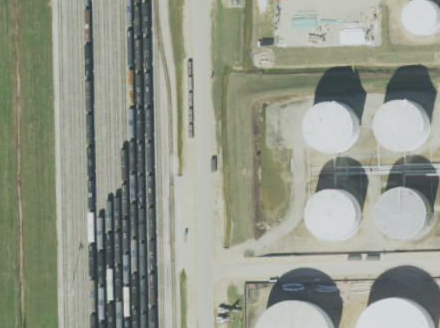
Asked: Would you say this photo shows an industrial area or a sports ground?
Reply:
industrial area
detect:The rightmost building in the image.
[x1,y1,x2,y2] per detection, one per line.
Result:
[340,29,365,44]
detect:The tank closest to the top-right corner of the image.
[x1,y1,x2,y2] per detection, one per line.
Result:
[402,0,440,35]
